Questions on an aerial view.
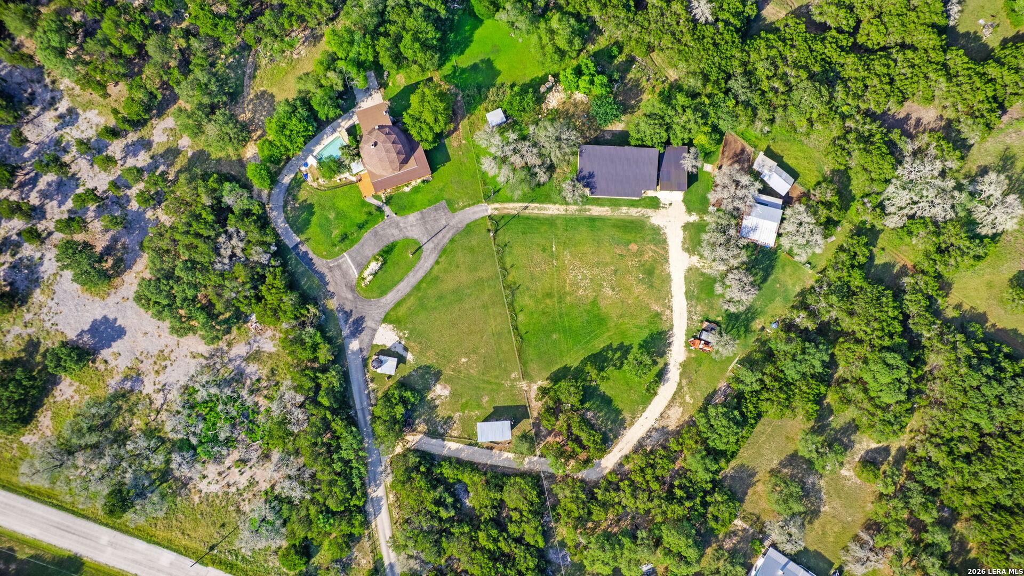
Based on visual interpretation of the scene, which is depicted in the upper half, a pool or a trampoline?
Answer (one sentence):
What appears in the upper half is a pool.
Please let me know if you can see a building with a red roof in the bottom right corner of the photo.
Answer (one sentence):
No, looking in the bottom right corner of the photo, there is no building with a red roof.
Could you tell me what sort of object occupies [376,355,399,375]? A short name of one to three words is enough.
building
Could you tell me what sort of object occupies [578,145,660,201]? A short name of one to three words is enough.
barn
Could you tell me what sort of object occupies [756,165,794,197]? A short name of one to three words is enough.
shed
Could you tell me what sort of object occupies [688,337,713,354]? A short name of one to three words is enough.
work vehicle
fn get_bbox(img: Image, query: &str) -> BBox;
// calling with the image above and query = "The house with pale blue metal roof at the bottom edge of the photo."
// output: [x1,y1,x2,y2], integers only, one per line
[749,536,815,576]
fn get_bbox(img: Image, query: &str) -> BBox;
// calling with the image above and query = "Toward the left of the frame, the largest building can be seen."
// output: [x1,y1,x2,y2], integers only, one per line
[356,102,433,196]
